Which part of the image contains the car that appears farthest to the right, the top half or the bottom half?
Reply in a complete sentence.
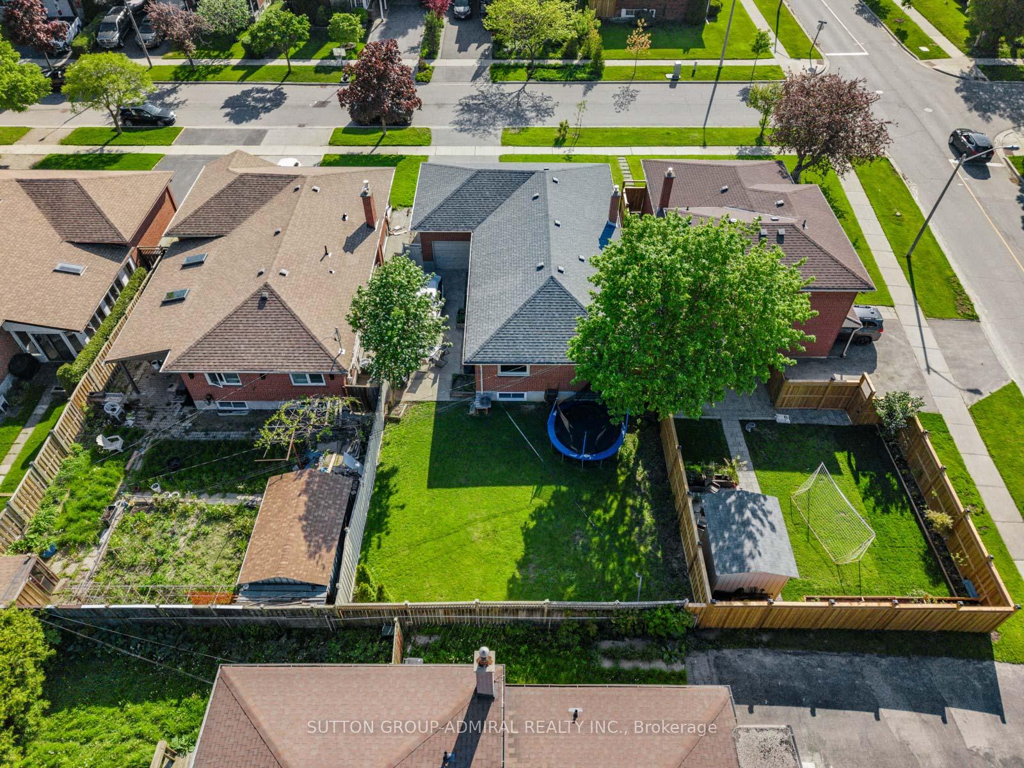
The car that appears farthest to the right is in the top half of the image.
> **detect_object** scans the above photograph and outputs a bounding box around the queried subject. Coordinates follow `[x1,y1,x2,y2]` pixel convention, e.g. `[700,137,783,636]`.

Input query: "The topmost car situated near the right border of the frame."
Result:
[947,129,1005,164]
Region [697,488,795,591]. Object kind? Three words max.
shed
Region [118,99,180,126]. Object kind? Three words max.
car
